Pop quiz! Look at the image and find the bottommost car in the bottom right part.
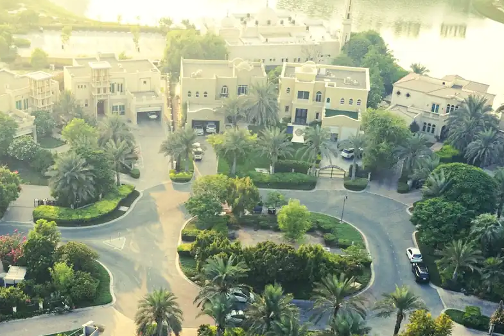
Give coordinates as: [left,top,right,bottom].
[410,262,432,281]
